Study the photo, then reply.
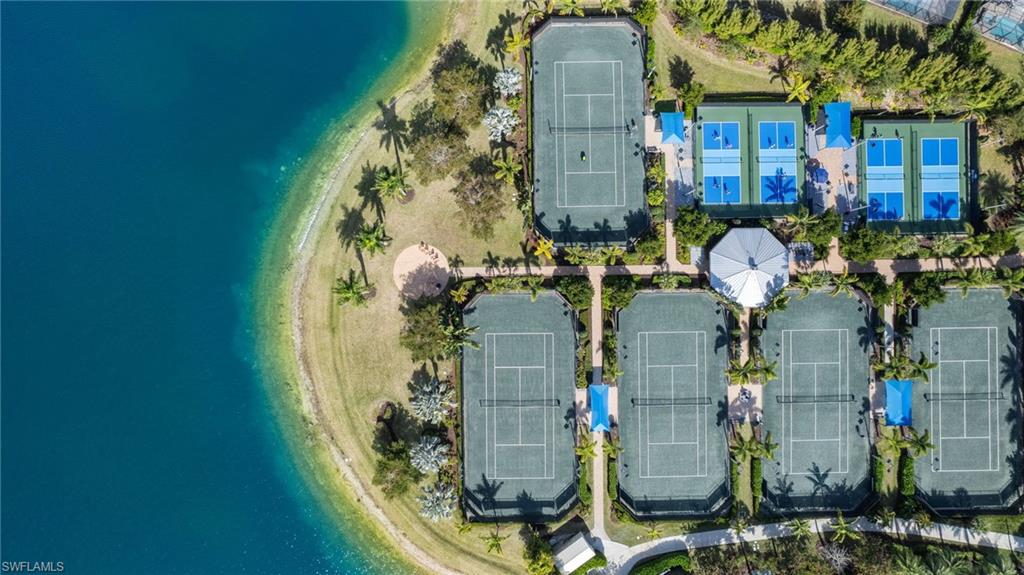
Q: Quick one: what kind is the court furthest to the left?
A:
tennis court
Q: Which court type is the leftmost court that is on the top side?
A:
tennis court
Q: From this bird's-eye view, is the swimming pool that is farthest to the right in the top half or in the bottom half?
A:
top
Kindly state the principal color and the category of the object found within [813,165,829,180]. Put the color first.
blue umbrella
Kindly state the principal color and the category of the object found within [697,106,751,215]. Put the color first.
blue sports court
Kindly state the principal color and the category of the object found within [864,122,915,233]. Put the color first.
blue sports court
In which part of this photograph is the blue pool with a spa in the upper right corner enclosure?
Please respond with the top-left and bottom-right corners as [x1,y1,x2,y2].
[982,10,1024,47]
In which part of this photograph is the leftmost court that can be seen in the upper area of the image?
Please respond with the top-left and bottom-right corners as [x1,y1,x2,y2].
[533,24,648,244]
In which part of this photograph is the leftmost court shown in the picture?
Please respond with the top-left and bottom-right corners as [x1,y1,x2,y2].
[463,292,577,513]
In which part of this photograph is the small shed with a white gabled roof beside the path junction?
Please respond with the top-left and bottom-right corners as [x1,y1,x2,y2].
[552,529,596,575]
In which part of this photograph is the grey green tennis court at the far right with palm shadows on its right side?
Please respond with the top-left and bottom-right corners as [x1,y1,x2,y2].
[913,287,1020,508]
